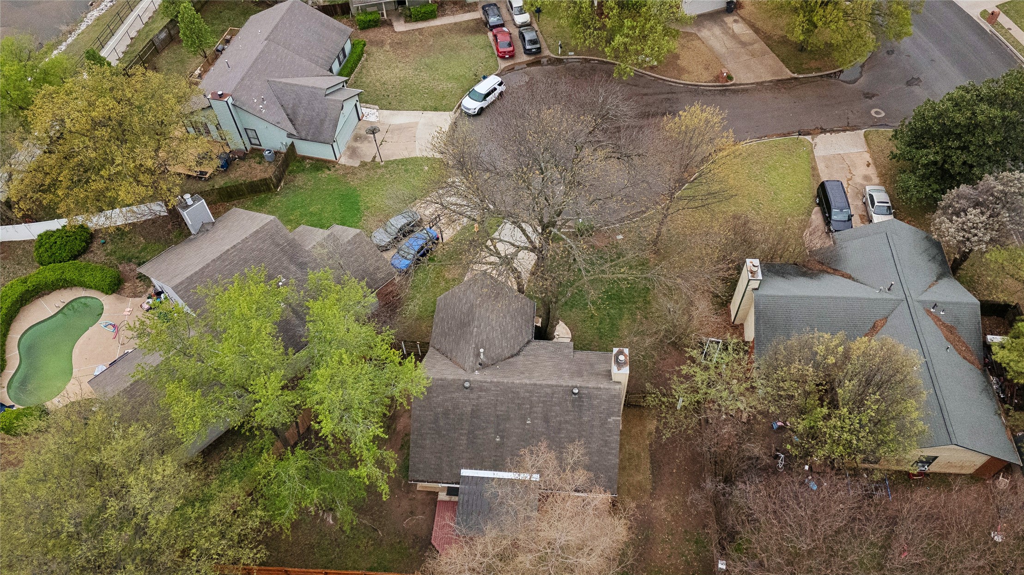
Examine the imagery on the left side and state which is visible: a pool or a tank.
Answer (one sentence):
Looking on the left side, you will find a pool.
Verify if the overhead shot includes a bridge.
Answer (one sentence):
No, the frame has no bridge in it.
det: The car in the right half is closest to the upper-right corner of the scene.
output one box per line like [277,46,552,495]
[863,185,898,223]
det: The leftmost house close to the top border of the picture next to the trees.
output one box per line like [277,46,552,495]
[184,0,364,161]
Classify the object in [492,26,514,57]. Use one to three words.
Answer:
car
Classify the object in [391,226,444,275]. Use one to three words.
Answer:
car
